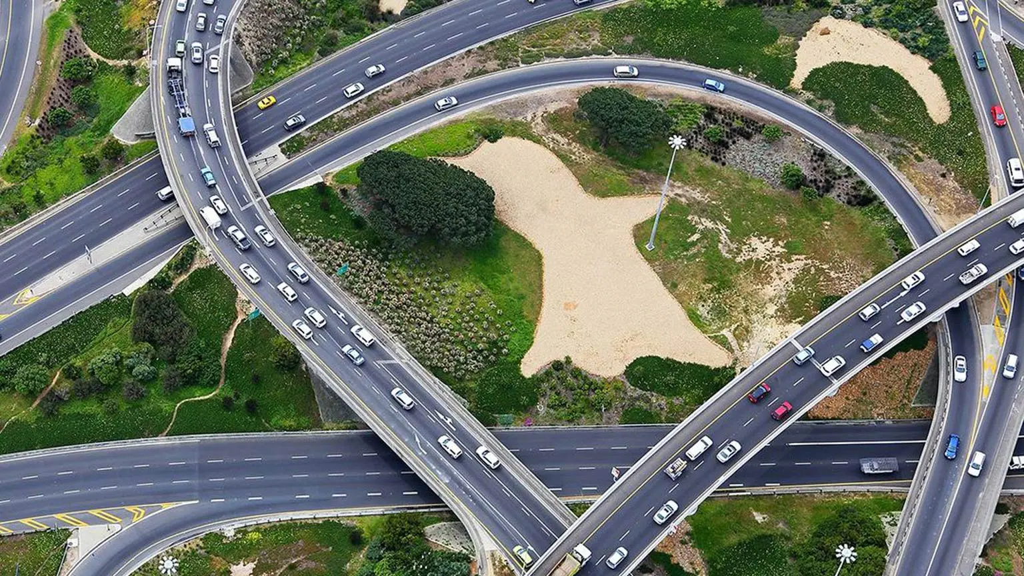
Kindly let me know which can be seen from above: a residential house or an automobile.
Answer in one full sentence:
Visible in the photo is an automobile.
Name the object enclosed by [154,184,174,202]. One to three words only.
car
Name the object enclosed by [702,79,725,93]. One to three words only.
car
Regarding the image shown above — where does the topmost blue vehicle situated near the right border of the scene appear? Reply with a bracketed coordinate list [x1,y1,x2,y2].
[973,50,985,71]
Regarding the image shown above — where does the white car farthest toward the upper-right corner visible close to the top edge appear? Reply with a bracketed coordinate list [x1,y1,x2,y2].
[953,2,966,23]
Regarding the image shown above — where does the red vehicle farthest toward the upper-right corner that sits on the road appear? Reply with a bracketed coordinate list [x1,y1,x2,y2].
[991,106,1006,128]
